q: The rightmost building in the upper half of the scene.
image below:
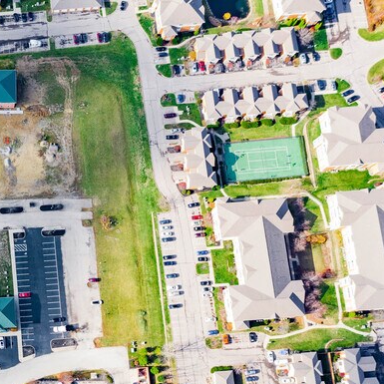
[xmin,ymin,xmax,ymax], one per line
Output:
[315,108,384,179]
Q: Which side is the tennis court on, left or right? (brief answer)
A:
right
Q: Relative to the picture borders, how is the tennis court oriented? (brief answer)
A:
from left to right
